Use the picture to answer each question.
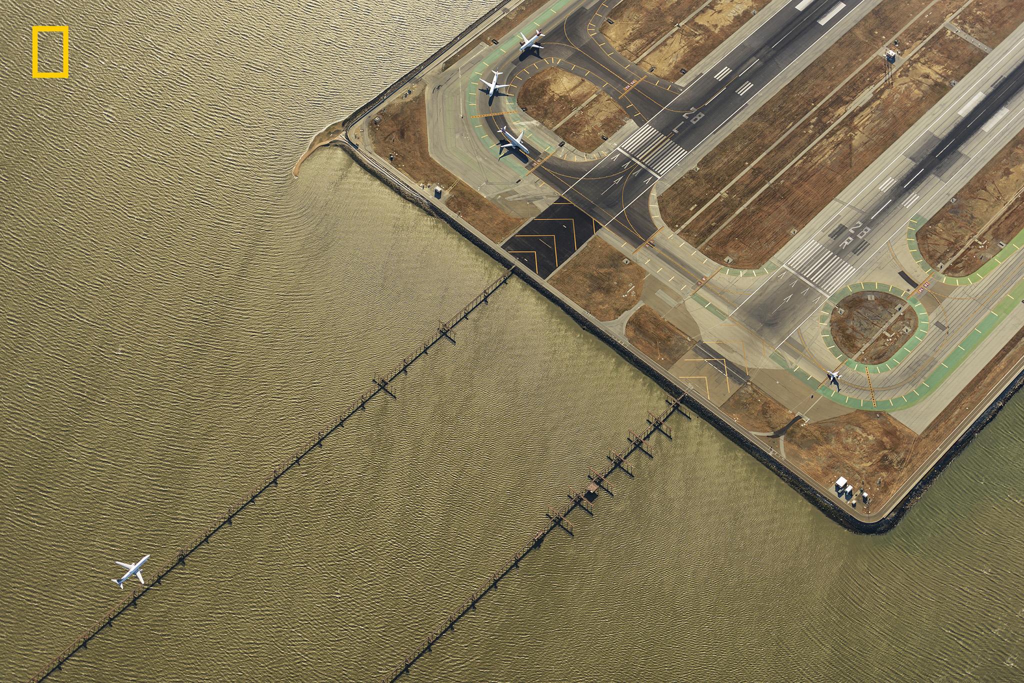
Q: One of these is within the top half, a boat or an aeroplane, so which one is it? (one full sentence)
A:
The one visible within the top half is an aeroplane.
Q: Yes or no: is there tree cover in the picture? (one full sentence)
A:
No, tree cover can't be seen anywhere here.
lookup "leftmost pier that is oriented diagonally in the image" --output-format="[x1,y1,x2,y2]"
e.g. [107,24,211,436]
[25,262,519,683]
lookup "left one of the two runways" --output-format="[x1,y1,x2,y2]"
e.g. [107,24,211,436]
[561,0,865,225]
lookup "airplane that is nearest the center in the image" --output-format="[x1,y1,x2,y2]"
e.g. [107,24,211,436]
[498,126,529,153]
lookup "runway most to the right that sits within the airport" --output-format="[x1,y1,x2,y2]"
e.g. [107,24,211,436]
[729,39,1024,349]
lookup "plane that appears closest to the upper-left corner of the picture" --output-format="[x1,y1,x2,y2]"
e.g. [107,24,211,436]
[479,67,510,97]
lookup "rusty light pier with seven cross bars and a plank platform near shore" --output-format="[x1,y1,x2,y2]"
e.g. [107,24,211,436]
[380,385,695,683]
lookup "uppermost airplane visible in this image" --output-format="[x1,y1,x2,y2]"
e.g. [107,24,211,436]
[520,29,545,51]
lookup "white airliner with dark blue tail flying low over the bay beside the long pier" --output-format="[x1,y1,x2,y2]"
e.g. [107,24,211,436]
[114,555,150,588]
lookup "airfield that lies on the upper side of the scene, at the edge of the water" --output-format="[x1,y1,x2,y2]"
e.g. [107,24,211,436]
[341,0,1024,507]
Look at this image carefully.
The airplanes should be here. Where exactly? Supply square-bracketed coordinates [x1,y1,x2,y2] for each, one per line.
[520,29,545,51]
[114,555,150,588]
[479,67,510,97]
[498,126,529,153]
[827,371,843,381]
